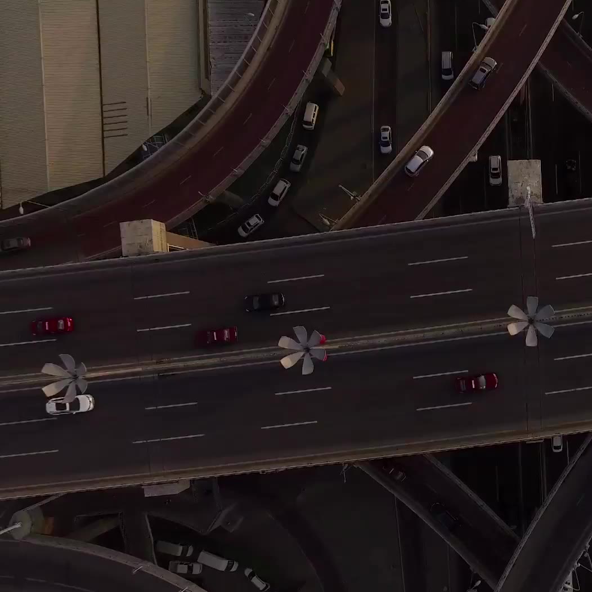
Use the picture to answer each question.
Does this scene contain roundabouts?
No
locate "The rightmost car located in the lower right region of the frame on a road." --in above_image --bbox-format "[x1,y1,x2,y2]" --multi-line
[550,434,565,453]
